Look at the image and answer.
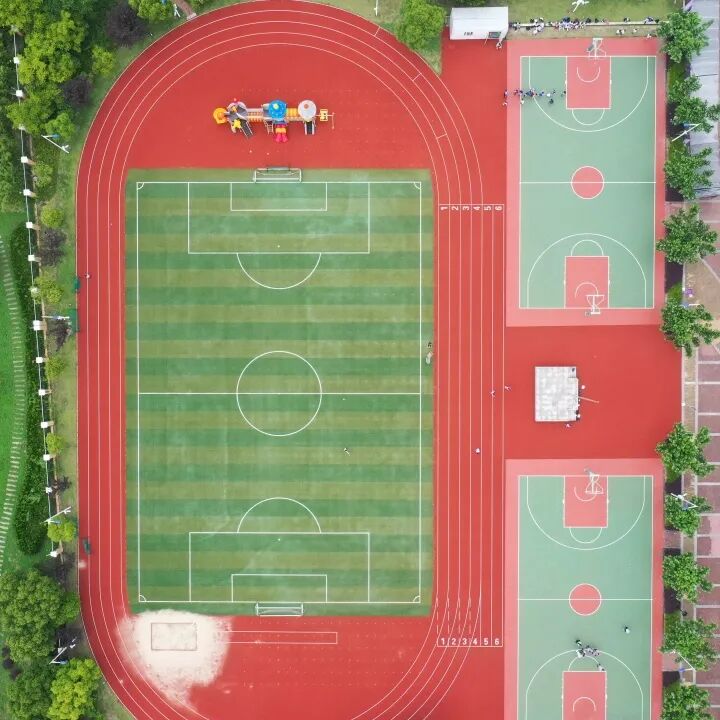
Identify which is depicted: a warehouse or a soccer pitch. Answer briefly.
soccer pitch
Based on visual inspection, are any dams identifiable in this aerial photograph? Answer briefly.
No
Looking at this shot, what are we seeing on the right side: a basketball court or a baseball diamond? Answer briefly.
basketball court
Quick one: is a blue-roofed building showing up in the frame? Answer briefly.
No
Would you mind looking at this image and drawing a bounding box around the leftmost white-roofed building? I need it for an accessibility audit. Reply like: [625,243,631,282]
[450,6,508,46]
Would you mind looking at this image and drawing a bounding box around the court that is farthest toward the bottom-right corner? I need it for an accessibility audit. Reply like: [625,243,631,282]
[503,458,664,720]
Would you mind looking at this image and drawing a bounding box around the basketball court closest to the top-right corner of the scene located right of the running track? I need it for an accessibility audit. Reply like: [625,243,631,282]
[506,37,667,326]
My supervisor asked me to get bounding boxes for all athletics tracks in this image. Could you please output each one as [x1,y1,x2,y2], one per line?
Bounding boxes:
[76,0,505,720]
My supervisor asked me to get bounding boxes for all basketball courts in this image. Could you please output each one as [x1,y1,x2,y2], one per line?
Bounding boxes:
[503,458,664,720]
[506,37,667,326]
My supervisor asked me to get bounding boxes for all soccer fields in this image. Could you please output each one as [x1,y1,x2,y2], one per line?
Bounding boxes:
[124,168,435,617]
